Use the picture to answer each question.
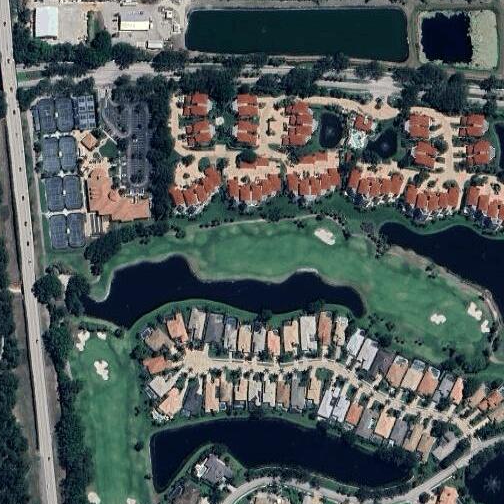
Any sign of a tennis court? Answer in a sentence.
Yes, the picture does show a tennis court.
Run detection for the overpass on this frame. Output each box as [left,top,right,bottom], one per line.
[0,54,52,449]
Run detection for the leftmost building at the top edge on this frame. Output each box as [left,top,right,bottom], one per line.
[35,6,57,37]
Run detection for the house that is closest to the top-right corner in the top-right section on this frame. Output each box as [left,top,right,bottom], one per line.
[459,113,488,137]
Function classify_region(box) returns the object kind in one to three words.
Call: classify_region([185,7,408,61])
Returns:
pond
